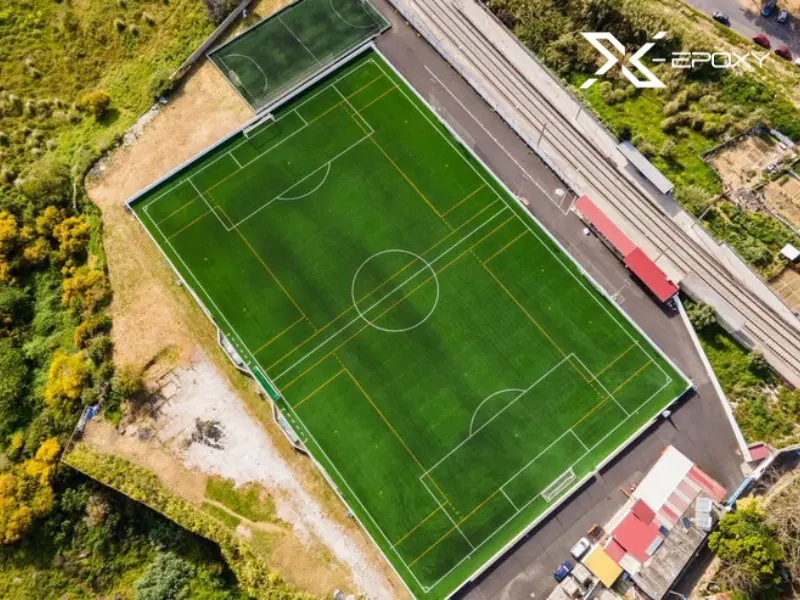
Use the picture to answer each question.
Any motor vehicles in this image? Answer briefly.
Yes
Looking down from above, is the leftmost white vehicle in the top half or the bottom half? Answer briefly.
bottom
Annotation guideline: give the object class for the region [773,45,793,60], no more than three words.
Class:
car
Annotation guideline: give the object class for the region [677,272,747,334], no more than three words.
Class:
building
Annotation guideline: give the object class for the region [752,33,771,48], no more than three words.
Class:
car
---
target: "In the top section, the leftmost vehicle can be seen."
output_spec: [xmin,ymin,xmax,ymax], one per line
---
[710,9,730,24]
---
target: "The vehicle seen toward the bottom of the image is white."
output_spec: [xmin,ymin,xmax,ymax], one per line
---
[570,538,591,560]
